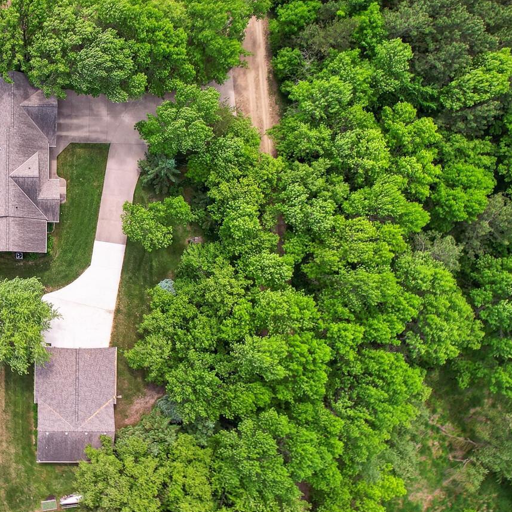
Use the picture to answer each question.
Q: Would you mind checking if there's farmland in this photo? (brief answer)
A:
No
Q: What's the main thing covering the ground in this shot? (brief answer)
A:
trees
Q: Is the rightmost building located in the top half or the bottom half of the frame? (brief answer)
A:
bottom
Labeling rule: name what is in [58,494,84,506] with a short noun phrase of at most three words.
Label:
boat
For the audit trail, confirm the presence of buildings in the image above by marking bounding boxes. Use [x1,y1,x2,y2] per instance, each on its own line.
[34,346,122,463]
[0,72,60,252]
